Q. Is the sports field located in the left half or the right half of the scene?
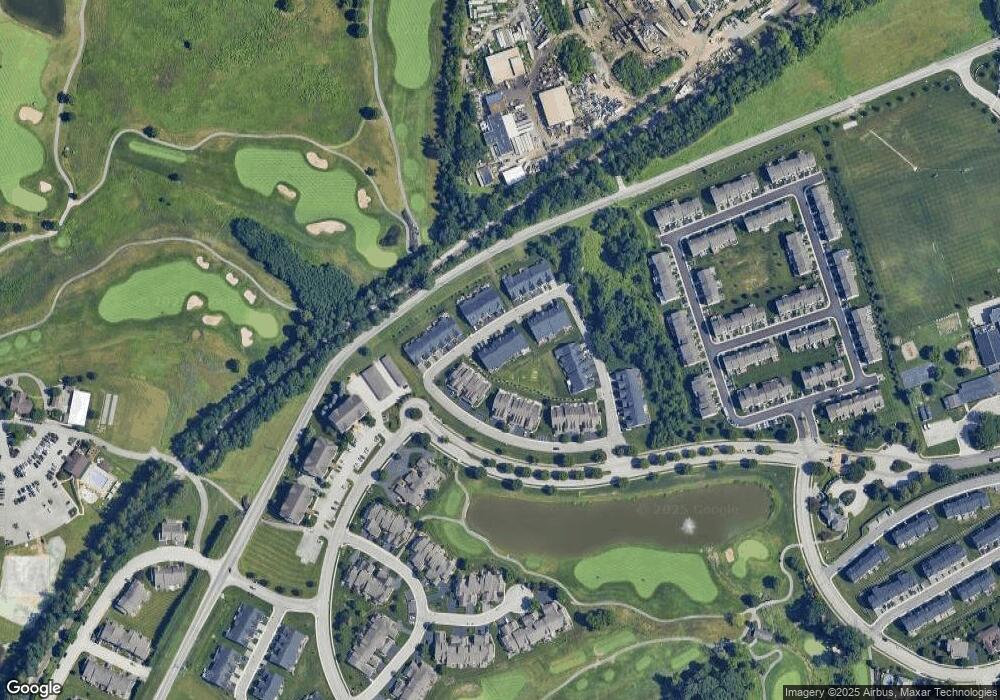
right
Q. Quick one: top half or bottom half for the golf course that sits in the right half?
bottom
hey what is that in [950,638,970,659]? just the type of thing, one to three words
house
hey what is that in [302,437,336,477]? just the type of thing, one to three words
building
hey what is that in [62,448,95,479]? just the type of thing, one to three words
building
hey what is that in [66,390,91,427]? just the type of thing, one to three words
barn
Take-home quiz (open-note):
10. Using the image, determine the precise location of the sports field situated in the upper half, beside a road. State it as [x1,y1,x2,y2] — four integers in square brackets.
[842,90,1000,334]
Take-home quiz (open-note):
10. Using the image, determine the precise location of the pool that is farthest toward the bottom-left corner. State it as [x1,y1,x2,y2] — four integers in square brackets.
[90,469,109,487]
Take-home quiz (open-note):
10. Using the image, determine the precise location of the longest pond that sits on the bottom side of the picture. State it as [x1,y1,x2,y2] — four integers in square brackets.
[467,482,772,556]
